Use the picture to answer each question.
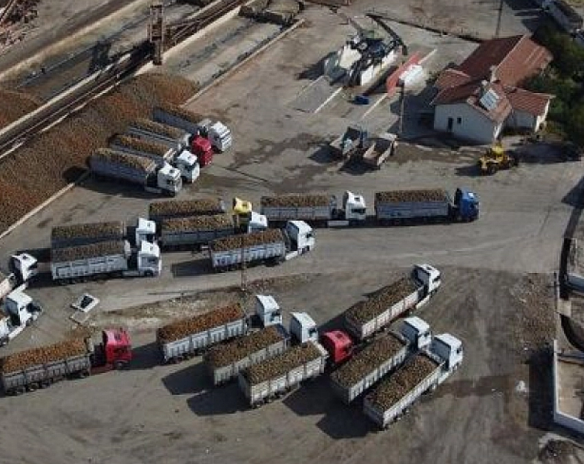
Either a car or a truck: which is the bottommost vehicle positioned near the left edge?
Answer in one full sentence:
I'd say the bottommost vehicle positioned near the left edge is a truck.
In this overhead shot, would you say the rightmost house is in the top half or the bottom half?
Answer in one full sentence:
It is in the top half that the rightmost house appears.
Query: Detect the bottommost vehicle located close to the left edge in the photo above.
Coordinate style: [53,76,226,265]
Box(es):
[1,326,131,393]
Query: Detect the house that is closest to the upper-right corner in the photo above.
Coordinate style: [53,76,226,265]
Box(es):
[421,26,558,162]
